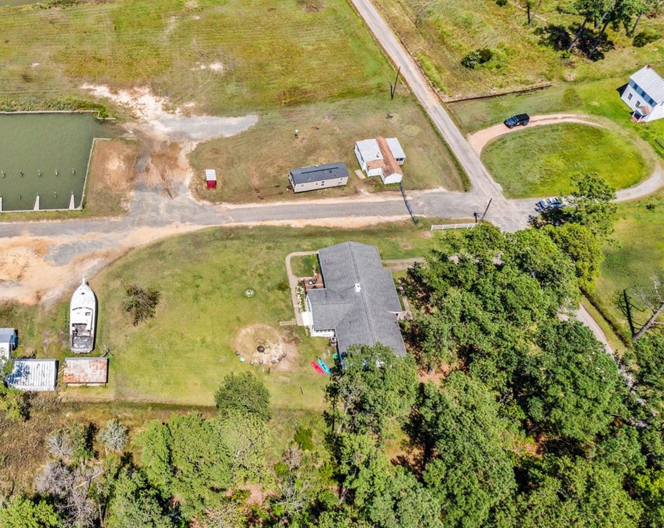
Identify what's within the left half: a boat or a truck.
boat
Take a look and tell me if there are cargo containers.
No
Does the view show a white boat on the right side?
No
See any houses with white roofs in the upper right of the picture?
Yes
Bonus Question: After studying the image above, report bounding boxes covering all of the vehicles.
[504,113,530,127]
[538,193,567,209]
